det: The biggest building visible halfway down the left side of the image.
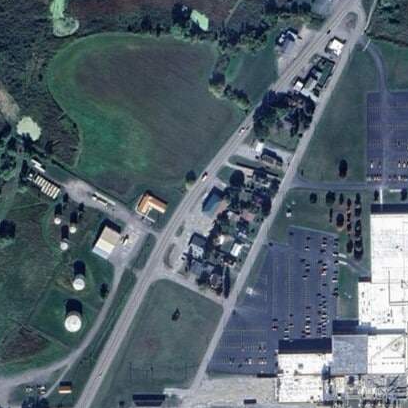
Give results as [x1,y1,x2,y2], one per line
[93,226,122,258]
